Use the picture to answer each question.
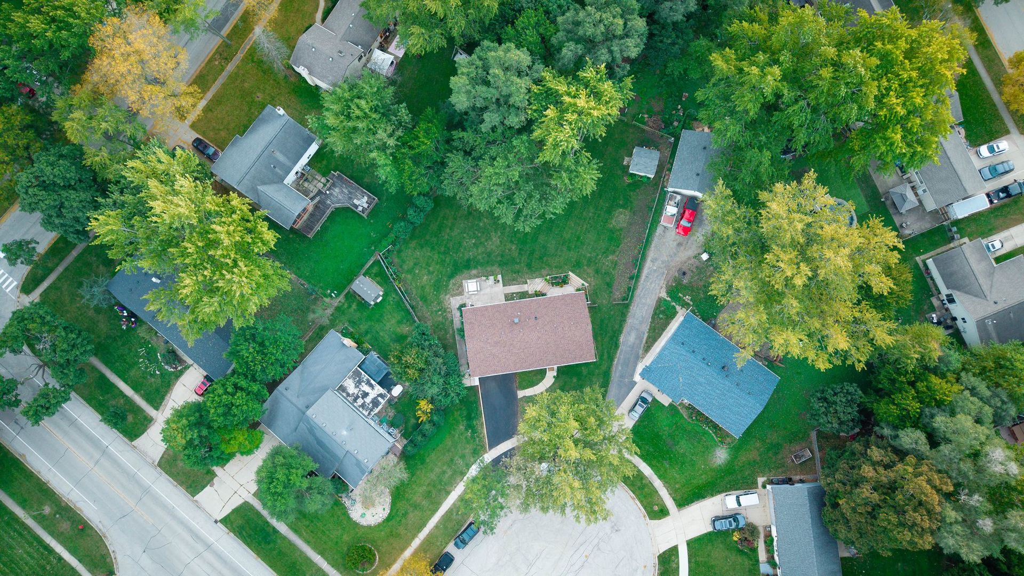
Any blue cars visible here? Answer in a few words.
Yes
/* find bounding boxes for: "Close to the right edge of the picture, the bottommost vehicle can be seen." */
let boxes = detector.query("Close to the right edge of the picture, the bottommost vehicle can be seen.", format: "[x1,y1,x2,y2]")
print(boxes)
[984,236,1011,254]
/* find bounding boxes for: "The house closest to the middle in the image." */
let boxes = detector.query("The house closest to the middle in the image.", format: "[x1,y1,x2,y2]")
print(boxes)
[462,291,596,378]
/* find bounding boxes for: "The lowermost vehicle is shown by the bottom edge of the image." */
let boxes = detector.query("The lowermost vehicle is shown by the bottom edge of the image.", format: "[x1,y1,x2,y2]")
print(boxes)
[428,547,458,576]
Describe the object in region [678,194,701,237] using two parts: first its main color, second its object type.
red truck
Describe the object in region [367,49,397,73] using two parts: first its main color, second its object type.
white tent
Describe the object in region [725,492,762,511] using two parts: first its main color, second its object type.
white car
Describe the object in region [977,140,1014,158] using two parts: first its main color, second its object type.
white car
